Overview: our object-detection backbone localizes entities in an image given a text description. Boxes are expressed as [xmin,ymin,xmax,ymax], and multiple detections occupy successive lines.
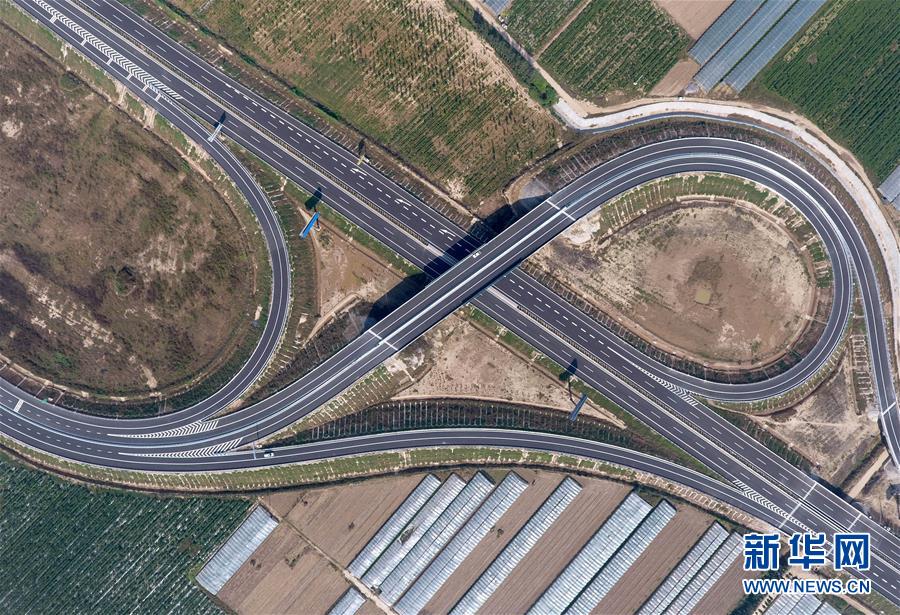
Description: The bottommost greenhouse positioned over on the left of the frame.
[327,586,366,615]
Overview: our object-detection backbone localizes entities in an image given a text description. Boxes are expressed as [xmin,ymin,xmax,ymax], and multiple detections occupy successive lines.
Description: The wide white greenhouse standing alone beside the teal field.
[197,504,279,594]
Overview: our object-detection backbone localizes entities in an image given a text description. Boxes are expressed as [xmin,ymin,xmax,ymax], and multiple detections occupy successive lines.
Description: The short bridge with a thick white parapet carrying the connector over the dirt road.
[878,402,900,483]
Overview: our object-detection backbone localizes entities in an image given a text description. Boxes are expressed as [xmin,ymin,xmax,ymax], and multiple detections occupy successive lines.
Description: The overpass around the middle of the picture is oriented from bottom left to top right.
[363,194,577,364]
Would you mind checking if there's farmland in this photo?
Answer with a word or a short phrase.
Yes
